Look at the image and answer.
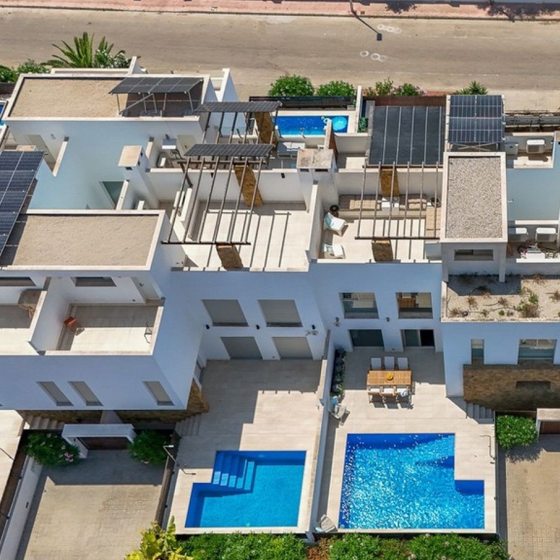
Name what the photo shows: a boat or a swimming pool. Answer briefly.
swimming pool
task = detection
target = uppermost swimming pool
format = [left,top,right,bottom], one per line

[271,115,351,136]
